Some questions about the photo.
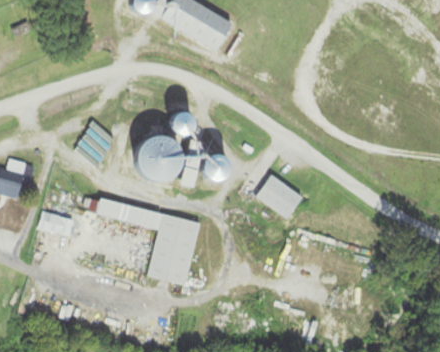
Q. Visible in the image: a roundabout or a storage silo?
storage silo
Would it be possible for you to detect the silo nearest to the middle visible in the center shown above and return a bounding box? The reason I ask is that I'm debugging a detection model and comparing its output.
[200,154,232,184]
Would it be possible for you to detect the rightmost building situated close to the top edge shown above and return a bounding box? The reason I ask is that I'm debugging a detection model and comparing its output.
[164,0,232,50]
